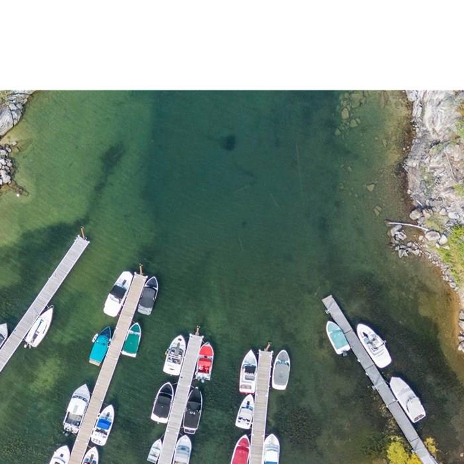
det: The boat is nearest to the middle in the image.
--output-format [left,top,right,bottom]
[136,276,158,317]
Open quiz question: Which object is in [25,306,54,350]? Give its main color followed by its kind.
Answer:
white boat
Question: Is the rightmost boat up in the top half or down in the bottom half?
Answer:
bottom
